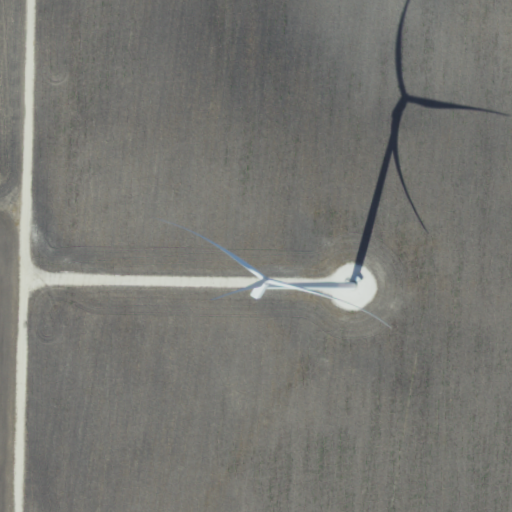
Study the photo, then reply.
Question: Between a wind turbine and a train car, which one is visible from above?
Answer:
wind turbine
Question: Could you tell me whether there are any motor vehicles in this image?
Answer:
No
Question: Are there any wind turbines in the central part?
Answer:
Yes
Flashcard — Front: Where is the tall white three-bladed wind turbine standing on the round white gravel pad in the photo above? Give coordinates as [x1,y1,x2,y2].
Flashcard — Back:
[160,218,393,326]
